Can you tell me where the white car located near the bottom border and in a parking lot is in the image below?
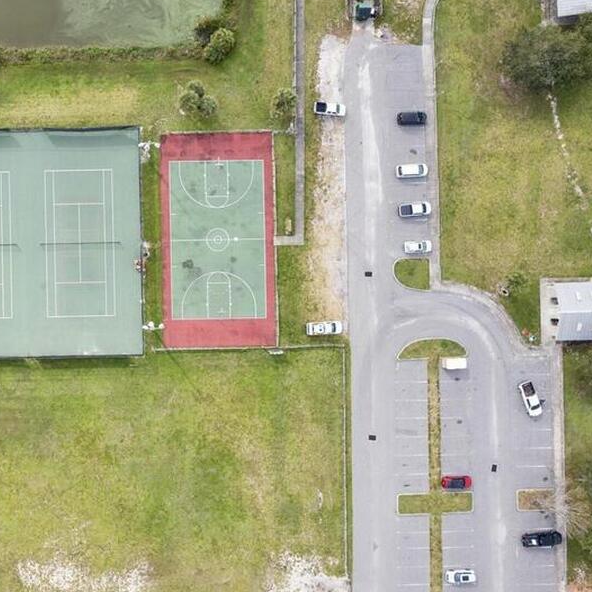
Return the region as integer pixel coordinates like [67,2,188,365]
[445,569,475,584]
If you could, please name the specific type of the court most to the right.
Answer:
basketball court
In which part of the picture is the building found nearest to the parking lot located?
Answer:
right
